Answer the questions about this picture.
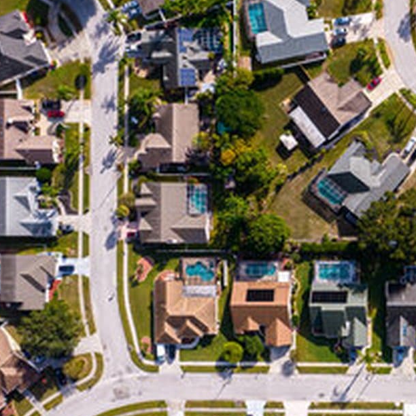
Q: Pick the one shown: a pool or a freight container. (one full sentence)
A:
The image shows a pool.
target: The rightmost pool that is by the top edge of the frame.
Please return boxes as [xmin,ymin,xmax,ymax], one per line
[241,0,268,38]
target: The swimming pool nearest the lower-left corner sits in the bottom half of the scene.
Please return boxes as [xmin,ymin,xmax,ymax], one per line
[180,258,218,280]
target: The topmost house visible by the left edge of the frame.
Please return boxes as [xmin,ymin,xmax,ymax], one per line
[0,11,53,93]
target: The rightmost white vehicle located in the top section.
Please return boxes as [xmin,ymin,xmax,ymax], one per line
[401,137,416,157]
